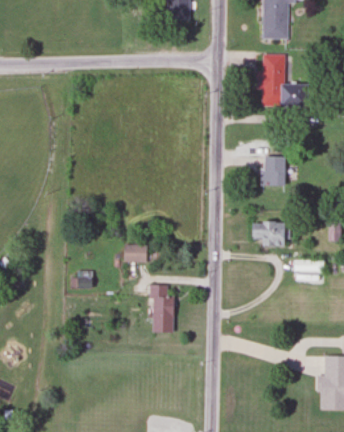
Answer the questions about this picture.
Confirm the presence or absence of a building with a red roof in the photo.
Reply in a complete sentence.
Yes, I can see a building with a red roof in this picture.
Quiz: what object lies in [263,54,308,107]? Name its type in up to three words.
house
